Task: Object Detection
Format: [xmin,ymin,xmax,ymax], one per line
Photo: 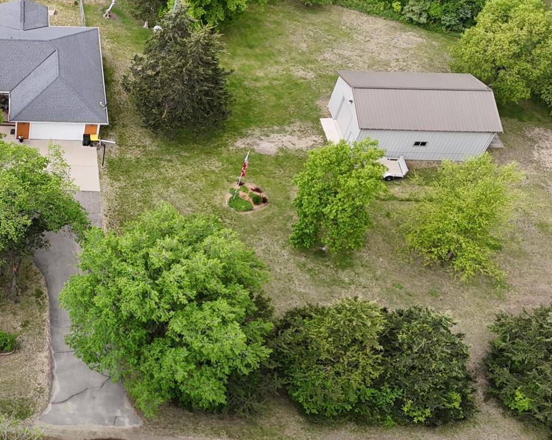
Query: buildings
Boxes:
[316,70,504,162]
[0,0,116,144]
